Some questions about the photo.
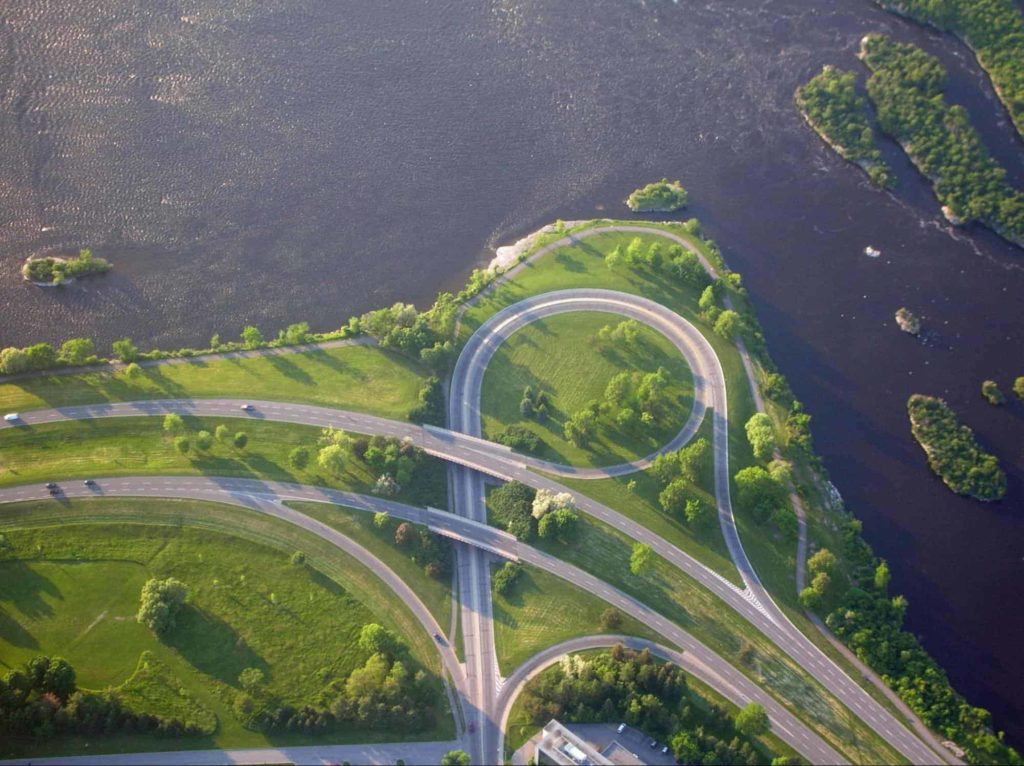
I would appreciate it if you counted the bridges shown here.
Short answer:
2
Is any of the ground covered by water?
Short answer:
Yes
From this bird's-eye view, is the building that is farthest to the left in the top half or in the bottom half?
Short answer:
bottom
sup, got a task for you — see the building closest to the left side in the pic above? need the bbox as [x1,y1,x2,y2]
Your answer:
[537,718,617,766]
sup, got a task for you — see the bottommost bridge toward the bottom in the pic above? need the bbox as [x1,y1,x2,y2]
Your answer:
[426,504,519,562]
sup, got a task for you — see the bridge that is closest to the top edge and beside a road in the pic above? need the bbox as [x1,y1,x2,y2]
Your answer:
[422,422,514,480]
